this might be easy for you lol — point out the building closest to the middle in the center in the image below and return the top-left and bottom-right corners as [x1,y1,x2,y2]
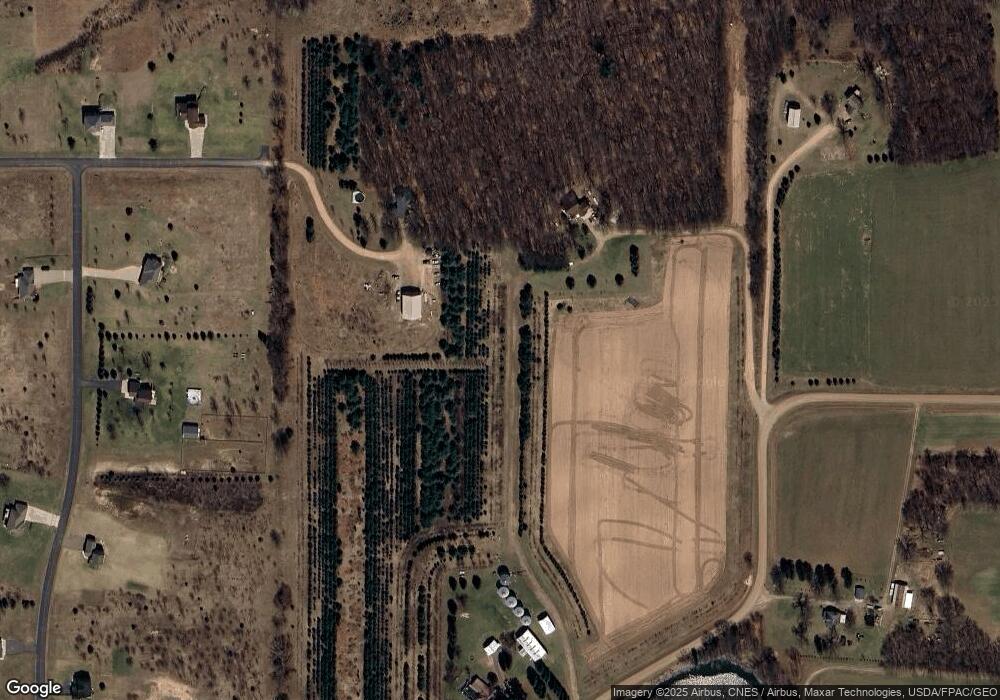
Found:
[402,291,422,318]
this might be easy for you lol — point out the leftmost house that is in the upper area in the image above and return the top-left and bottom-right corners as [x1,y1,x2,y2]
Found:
[16,266,34,293]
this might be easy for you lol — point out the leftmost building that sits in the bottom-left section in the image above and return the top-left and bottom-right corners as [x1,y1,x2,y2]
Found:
[3,500,29,529]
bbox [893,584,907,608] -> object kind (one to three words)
barn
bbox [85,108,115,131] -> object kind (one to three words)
house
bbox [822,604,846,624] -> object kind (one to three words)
house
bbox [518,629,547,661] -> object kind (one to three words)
barn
